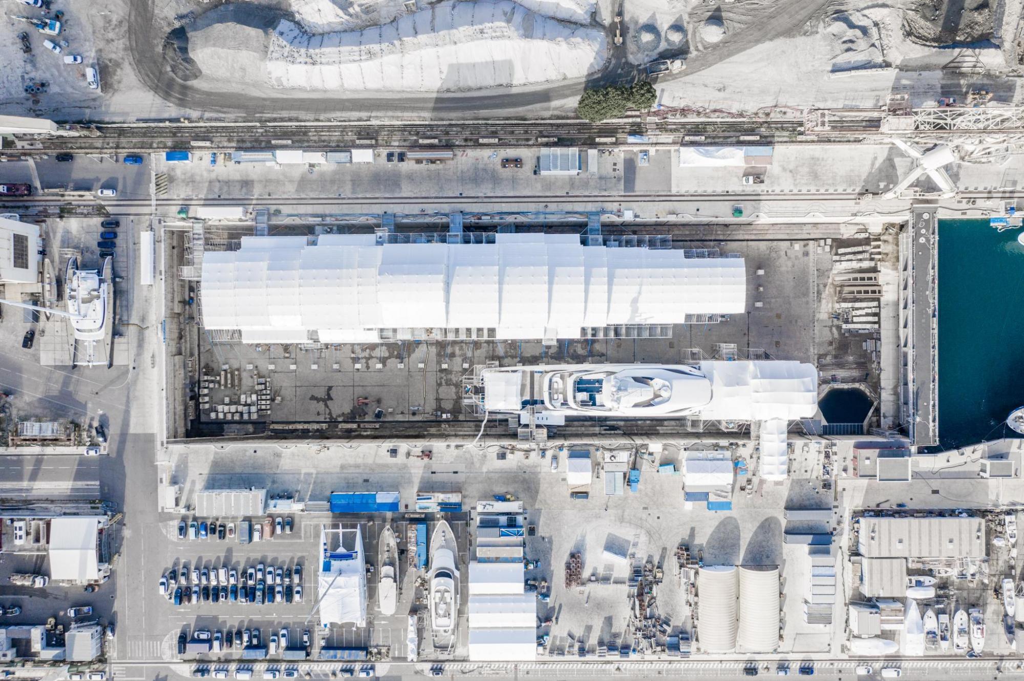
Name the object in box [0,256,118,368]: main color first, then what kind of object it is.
white boat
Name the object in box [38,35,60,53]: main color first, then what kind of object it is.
white vehicle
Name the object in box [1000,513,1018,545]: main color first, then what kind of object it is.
white boat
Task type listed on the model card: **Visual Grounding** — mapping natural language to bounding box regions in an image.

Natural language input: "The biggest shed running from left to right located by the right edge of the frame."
[854,513,986,558]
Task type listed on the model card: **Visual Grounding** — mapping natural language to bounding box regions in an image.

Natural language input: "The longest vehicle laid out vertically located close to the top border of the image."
[612,6,624,48]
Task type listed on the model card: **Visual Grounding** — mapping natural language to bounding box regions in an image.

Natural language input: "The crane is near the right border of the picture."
[868,124,1024,201]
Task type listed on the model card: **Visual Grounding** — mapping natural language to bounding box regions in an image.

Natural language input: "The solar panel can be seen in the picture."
[13,233,29,268]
